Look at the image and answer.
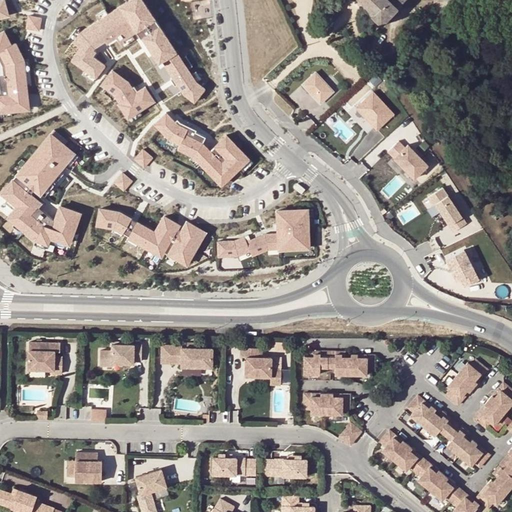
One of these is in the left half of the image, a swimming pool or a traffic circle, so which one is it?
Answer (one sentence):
It is a swimming pool that can be seen in the left half of the image.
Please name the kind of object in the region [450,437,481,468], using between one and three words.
house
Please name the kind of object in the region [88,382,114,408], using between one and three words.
swimming pool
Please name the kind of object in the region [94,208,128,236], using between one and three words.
building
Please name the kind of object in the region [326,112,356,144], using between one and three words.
swimming pool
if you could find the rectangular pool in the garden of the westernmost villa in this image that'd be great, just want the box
[17,385,53,407]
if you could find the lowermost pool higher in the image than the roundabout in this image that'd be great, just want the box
[397,202,420,225]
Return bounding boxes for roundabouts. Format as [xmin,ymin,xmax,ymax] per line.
[328,241,412,326]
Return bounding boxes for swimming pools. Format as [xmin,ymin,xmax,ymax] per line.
[173,398,202,413]
[326,112,356,144]
[397,202,420,225]
[17,385,53,407]
[88,382,114,408]
[496,284,512,299]
[380,174,406,200]
[270,386,290,418]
